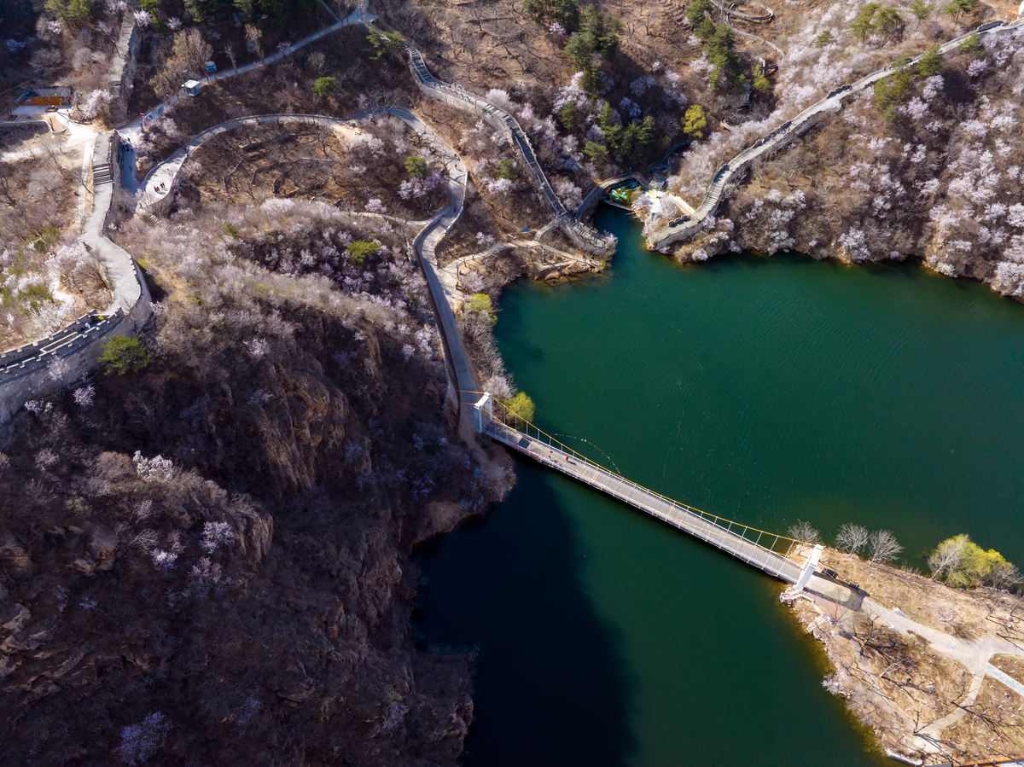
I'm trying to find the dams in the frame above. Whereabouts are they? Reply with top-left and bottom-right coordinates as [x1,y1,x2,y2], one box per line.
[592,174,651,213]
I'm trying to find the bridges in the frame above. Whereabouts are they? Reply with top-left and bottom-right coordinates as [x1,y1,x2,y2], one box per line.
[454,389,892,622]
